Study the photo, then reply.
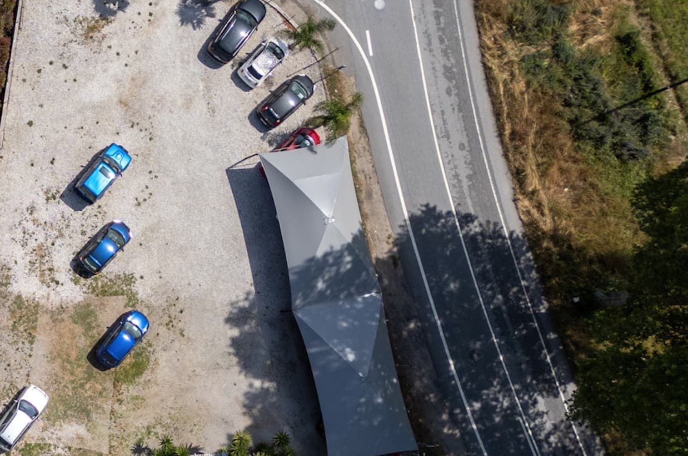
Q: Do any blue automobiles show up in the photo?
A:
Yes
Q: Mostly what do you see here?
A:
paved ground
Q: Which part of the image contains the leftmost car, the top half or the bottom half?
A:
bottom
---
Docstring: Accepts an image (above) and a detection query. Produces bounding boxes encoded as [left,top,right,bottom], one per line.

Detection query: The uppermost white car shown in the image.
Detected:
[238,35,288,87]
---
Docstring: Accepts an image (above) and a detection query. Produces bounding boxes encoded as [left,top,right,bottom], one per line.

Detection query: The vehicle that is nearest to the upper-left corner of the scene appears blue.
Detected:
[74,140,136,207]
